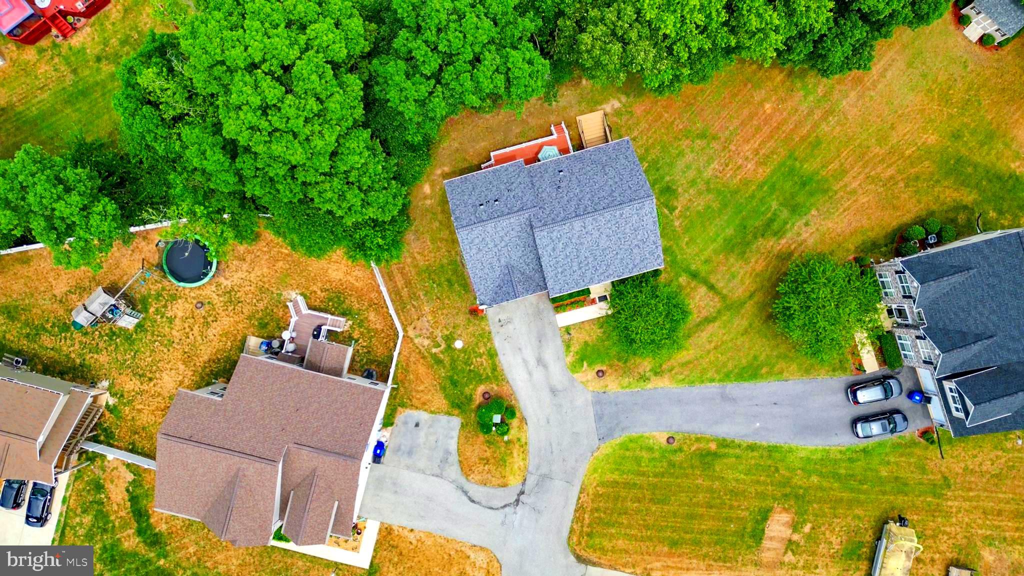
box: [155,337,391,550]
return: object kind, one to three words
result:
house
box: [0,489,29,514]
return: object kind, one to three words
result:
car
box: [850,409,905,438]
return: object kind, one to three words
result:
car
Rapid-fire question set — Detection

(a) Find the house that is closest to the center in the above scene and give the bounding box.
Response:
[443,136,665,310]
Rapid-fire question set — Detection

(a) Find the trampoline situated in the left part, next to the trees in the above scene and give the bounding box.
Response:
[158,233,219,289]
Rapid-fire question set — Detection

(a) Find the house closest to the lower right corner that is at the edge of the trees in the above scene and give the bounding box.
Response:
[875,222,1024,440]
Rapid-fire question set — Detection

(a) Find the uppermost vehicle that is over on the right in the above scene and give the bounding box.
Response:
[846,375,899,405]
